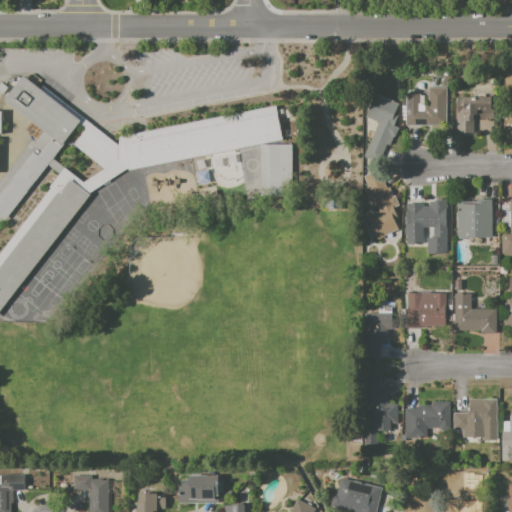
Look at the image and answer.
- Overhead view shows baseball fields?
Yes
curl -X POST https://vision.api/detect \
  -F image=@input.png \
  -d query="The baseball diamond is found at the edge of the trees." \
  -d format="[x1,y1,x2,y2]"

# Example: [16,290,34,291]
[127,232,208,308]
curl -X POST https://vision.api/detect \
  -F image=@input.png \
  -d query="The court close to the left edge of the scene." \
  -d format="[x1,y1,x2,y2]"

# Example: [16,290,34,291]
[0,158,195,321]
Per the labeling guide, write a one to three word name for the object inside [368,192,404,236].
house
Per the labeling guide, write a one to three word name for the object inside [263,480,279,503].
swimming pool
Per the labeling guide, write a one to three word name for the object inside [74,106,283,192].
building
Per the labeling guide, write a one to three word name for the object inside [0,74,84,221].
building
